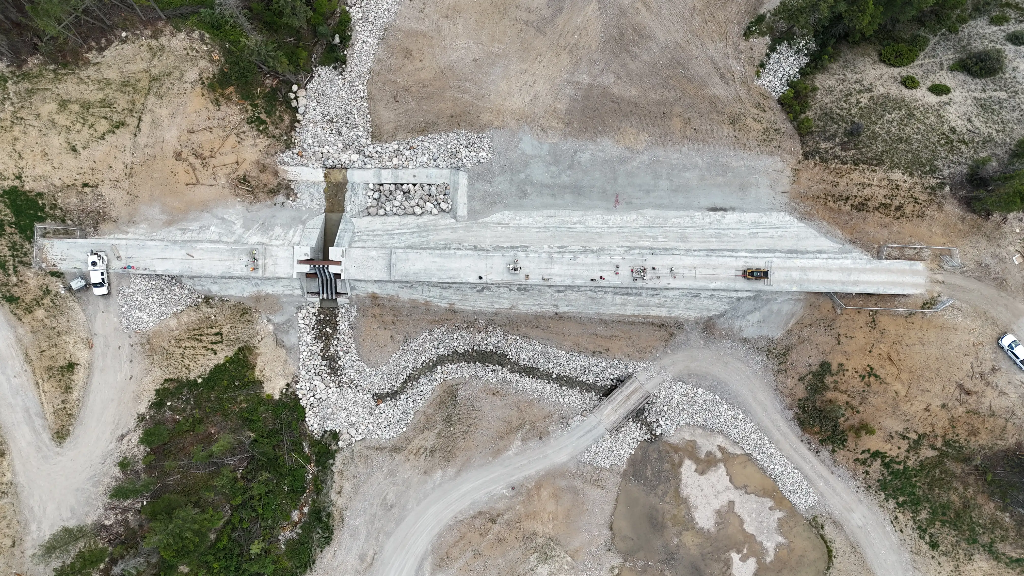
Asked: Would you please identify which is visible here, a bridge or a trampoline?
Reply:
bridge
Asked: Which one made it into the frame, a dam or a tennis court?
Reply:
dam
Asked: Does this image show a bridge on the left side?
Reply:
No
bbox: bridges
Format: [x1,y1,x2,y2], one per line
[591,374,652,432]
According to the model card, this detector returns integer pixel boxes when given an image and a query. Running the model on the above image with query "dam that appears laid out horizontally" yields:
[40,209,926,320]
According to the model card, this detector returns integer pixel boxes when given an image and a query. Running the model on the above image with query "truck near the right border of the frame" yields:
[998,334,1024,374]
